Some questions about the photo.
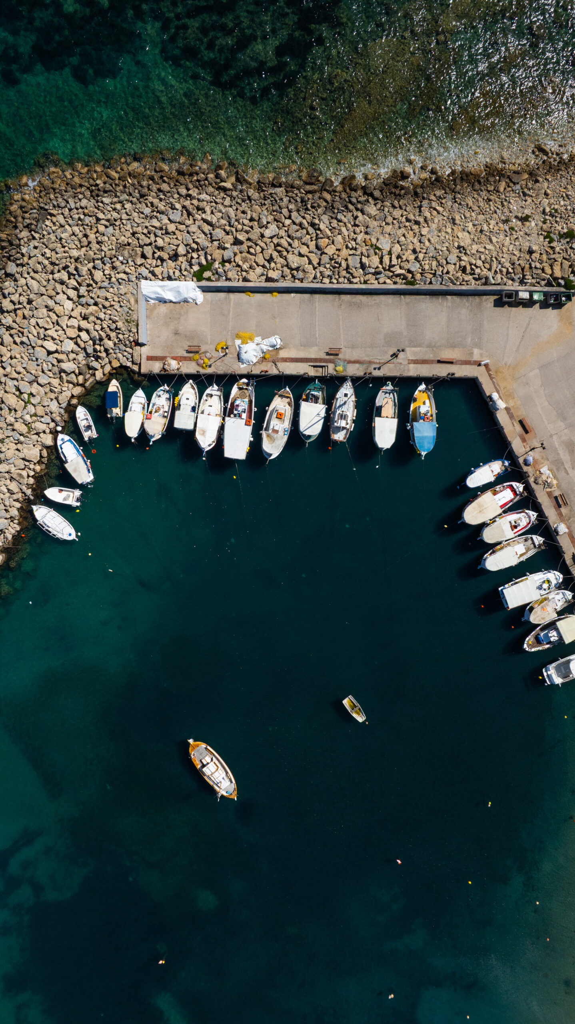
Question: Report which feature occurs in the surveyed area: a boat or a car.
boat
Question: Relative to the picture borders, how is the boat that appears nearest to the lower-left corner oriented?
diagonally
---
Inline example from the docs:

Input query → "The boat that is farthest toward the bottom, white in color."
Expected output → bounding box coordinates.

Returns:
[187,738,238,802]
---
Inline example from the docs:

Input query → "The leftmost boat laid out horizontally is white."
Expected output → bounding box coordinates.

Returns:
[44,487,88,507]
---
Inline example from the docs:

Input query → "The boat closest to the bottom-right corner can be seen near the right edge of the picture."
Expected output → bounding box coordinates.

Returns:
[540,652,575,687]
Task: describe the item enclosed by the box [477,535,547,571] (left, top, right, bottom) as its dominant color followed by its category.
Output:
white boat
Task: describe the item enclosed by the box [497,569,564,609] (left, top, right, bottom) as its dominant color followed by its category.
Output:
white boat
